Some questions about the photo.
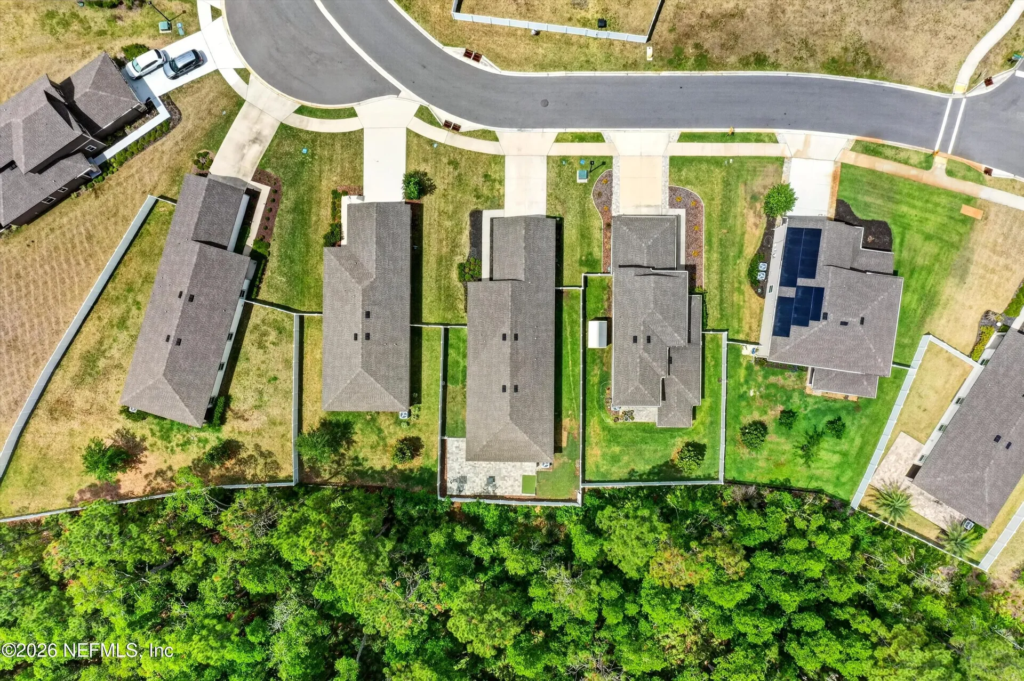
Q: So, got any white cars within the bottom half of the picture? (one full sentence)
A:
No, I see no white car within the bottom half of the picture.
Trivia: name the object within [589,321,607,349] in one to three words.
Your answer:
shed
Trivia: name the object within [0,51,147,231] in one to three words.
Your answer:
house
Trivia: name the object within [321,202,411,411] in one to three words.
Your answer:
house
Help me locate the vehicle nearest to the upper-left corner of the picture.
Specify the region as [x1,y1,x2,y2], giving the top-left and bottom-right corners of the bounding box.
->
[126,47,169,81]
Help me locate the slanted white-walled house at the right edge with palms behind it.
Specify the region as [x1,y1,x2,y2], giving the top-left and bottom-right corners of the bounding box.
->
[903,326,1024,529]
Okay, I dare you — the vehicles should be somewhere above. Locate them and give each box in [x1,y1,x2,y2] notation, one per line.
[164,48,205,81]
[126,47,169,81]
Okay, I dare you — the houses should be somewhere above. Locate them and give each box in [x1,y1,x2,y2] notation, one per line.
[120,173,257,428]
[757,218,904,399]
[611,216,702,428]
[0,51,147,231]
[321,202,411,411]
[903,326,1024,529]
[466,216,555,463]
